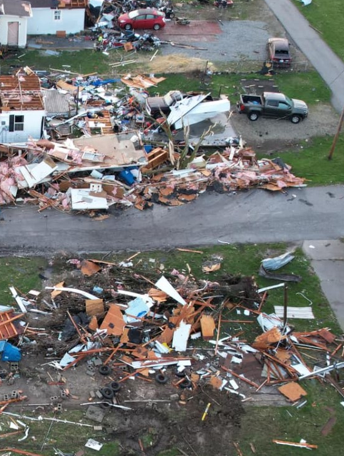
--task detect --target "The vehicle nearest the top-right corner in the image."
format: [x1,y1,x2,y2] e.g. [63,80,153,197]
[267,36,294,64]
